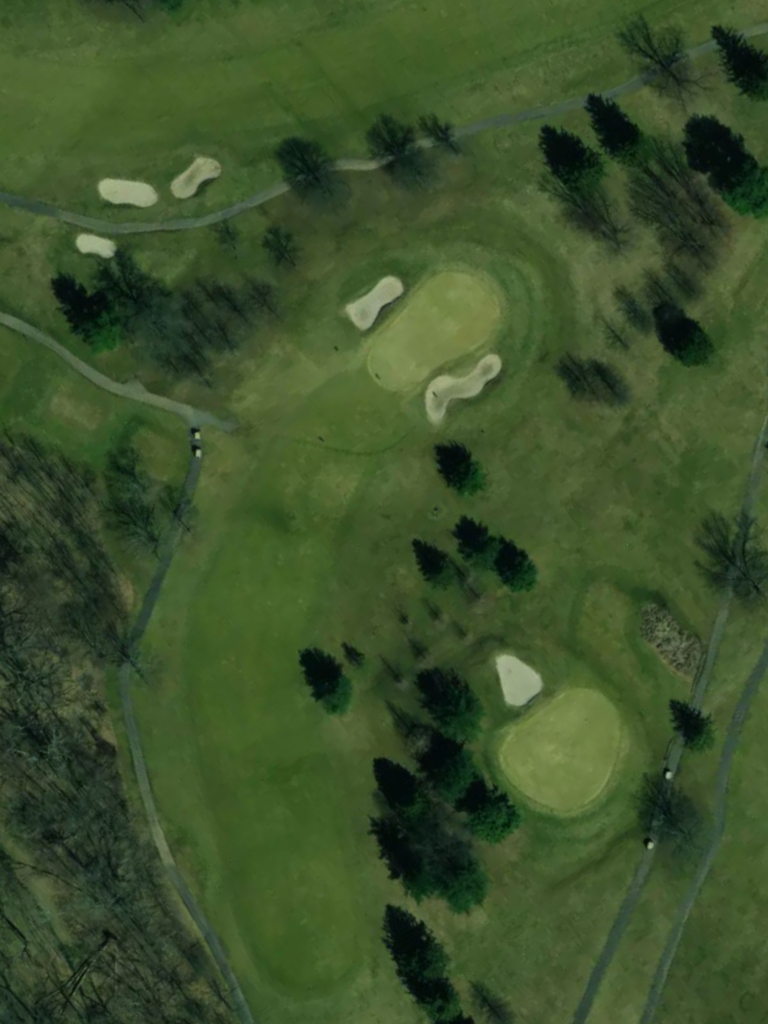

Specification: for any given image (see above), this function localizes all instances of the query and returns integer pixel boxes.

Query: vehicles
[195,447,201,458]
[664,769,673,781]
[646,839,654,851]
[194,430,200,441]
